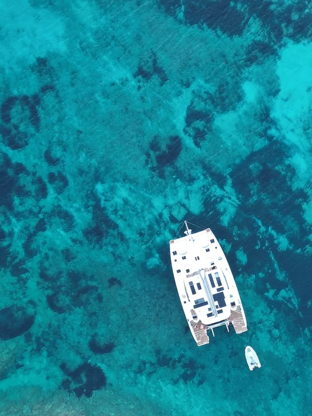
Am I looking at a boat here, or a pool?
boat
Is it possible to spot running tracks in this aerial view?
No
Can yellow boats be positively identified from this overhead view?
No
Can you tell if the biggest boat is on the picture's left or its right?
right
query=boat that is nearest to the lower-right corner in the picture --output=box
[245,346,260,370]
